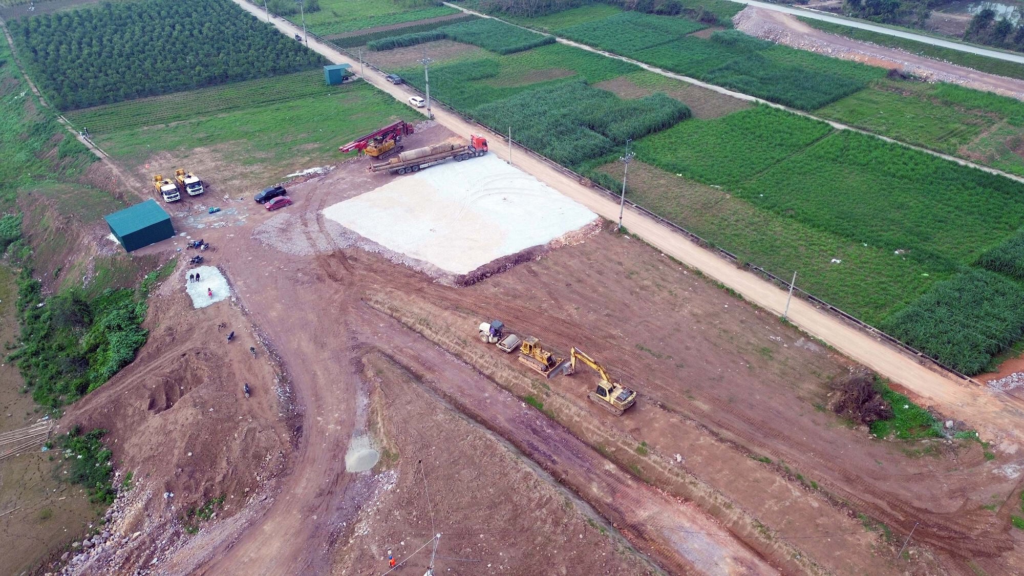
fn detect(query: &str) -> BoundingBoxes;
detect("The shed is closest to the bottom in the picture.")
[96,194,173,247]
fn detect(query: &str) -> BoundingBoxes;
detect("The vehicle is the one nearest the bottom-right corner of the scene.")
[560,346,639,419]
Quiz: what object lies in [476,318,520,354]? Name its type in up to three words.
work vehicle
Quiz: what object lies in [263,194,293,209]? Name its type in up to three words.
car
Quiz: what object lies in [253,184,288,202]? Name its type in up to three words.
vehicle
